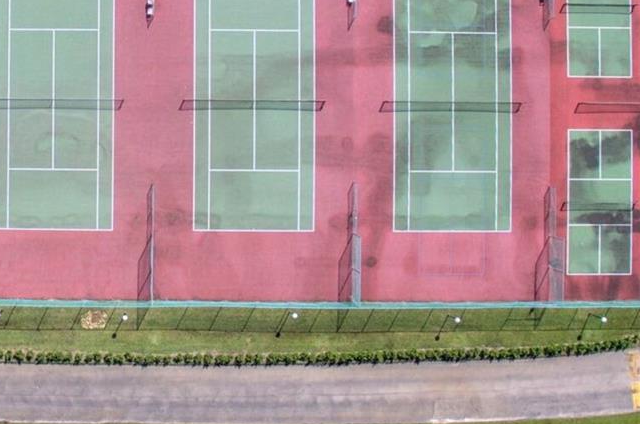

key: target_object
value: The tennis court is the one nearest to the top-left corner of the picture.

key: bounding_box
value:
[0,0,114,230]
